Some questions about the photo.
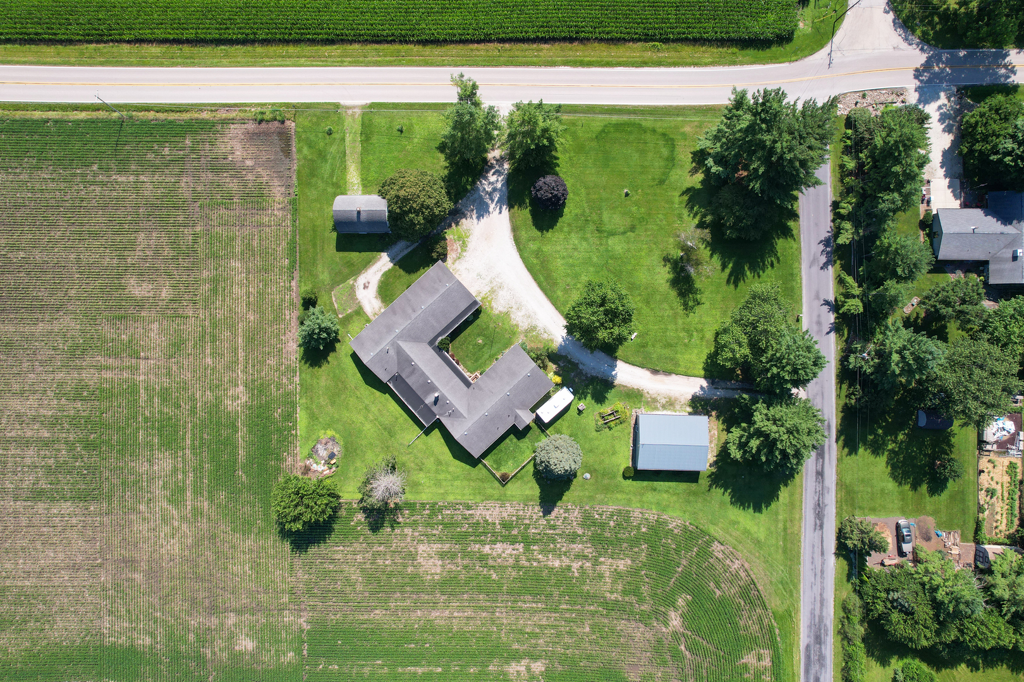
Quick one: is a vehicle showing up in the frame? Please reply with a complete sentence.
Yes, the frame does contain a vehicle.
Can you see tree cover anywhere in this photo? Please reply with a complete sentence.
Yes, tree cover can be seen from above here.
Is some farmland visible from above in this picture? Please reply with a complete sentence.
Yes, farmland shows up in the scene.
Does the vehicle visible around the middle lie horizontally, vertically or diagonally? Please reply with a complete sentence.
Seen from above, the vehicle visible around the middle lies diagonally.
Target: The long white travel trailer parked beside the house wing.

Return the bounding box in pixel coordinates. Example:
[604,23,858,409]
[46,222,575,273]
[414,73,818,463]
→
[537,386,572,421]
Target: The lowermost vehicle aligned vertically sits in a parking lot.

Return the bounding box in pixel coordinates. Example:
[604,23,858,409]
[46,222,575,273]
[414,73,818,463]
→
[896,521,914,557]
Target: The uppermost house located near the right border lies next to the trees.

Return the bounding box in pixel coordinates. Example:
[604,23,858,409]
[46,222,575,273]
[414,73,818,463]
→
[930,190,1024,284]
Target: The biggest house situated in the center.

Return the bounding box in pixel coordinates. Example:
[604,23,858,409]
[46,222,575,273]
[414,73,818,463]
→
[348,259,556,459]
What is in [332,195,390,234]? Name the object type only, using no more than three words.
barn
